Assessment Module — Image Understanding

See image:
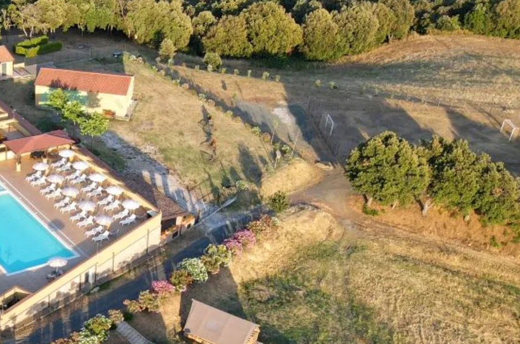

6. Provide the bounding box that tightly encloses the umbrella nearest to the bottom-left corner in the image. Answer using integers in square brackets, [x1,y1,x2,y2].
[48,258,68,282]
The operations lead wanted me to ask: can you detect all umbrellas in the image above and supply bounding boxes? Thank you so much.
[48,258,68,282]
[122,202,139,225]
[77,202,95,225]
[106,188,123,202]
[32,165,48,174]
[87,175,105,185]
[47,176,63,185]
[59,151,75,160]
[72,163,89,177]
[94,217,113,232]
[61,189,78,204]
